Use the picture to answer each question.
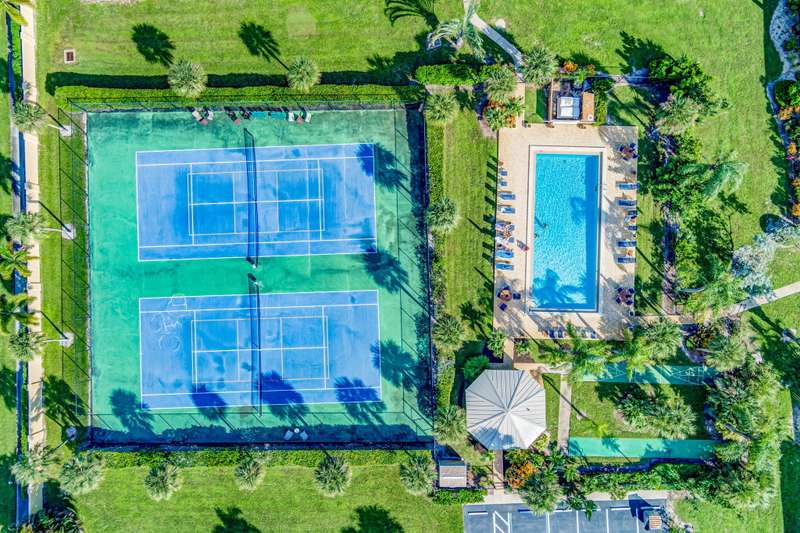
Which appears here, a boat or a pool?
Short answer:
pool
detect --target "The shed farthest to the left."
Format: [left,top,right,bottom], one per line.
[439,460,467,487]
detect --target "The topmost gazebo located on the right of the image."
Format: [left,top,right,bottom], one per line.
[466,369,545,449]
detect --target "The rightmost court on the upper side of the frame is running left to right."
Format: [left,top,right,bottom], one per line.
[136,144,377,261]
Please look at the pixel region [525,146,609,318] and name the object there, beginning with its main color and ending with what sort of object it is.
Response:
blue swimming pool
